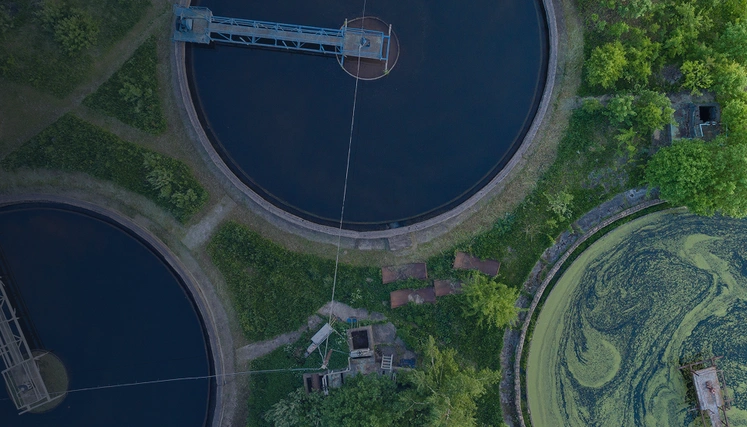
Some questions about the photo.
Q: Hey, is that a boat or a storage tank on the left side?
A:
storage tank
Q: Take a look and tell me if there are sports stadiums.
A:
No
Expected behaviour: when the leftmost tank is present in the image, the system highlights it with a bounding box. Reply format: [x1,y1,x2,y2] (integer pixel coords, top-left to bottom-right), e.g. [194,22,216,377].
[0,193,226,427]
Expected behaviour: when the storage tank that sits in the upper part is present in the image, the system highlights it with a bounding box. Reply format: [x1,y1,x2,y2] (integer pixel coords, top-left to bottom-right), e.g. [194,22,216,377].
[175,0,557,238]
